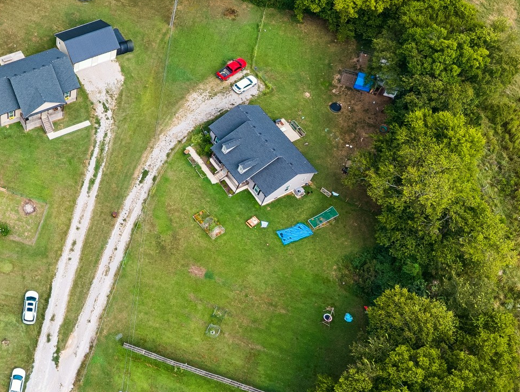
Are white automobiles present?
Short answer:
Yes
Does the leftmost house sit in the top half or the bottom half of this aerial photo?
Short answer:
top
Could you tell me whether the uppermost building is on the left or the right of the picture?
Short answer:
left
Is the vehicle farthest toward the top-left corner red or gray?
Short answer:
red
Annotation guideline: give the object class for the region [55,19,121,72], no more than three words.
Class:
building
